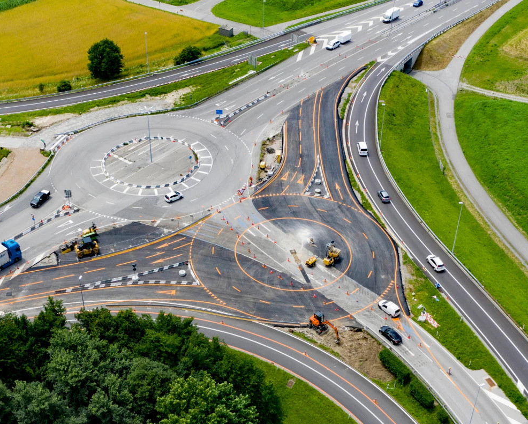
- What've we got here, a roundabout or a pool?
roundabout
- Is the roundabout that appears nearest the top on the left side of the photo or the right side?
left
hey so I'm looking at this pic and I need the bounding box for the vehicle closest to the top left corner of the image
[30,191,50,207]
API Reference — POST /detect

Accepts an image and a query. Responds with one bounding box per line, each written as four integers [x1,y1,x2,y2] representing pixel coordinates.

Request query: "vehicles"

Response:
[308,313,333,343]
[73,240,101,260]
[0,245,20,270]
[425,256,446,272]
[413,0,424,7]
[82,231,98,241]
[326,39,340,50]
[322,247,343,266]
[383,6,400,21]
[30,191,50,207]
[357,144,366,156]
[377,301,401,319]
[378,327,404,345]
[164,192,183,203]
[376,191,391,204]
